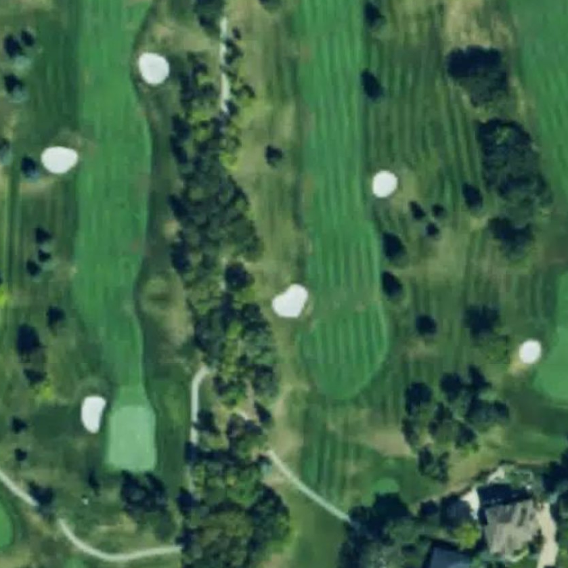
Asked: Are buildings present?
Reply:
Yes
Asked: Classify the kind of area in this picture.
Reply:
golf course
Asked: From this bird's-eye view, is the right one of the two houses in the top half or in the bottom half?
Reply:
bottom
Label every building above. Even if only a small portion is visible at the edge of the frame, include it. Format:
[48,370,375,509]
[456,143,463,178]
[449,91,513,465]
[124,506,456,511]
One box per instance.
[483,505,542,556]
[435,546,482,568]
